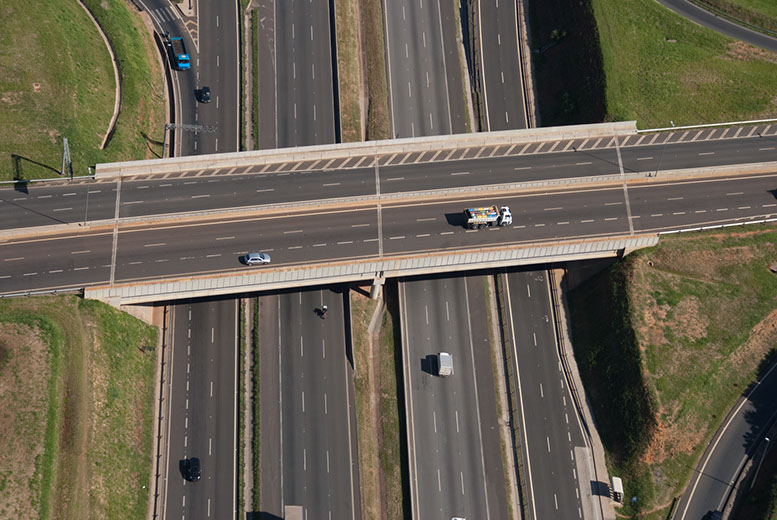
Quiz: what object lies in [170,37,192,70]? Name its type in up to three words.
truck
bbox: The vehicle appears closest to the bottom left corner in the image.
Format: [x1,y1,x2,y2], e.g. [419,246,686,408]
[188,458,202,481]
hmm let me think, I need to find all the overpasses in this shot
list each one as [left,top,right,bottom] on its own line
[86,121,659,323]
